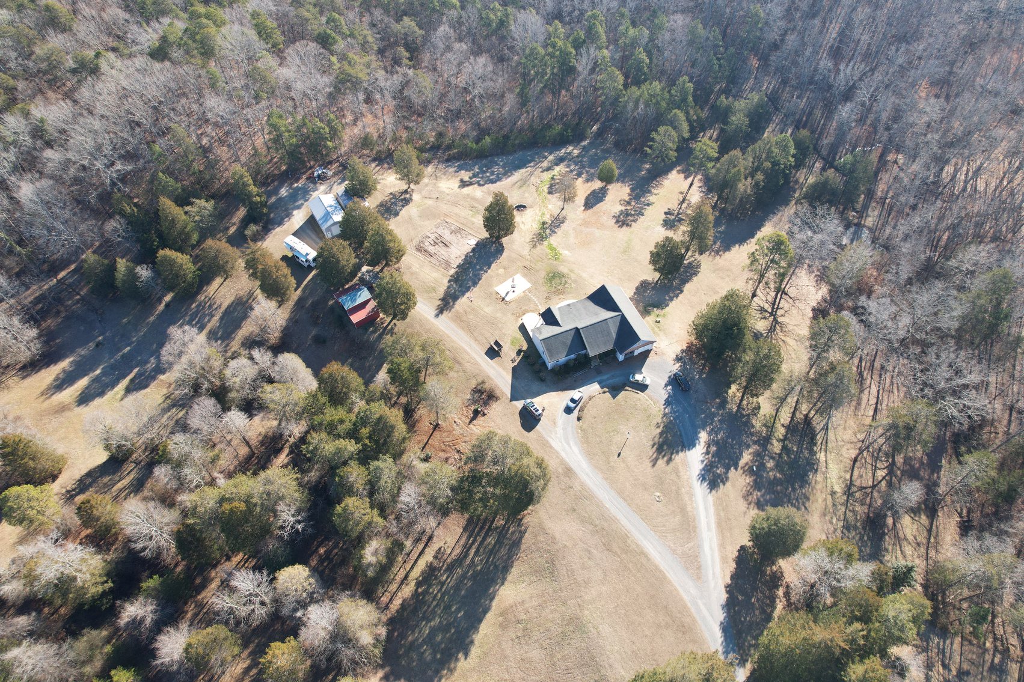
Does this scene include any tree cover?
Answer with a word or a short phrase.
Yes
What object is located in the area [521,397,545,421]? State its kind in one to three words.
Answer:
car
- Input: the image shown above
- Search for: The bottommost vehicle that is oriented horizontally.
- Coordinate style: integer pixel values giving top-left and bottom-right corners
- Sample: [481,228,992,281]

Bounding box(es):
[627,374,653,388]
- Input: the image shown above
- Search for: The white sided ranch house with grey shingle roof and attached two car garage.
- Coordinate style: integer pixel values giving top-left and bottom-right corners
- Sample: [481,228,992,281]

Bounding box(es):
[531,280,657,369]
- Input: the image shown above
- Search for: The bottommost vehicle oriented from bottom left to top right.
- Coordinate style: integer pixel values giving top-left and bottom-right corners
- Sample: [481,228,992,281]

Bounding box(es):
[564,389,585,412]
